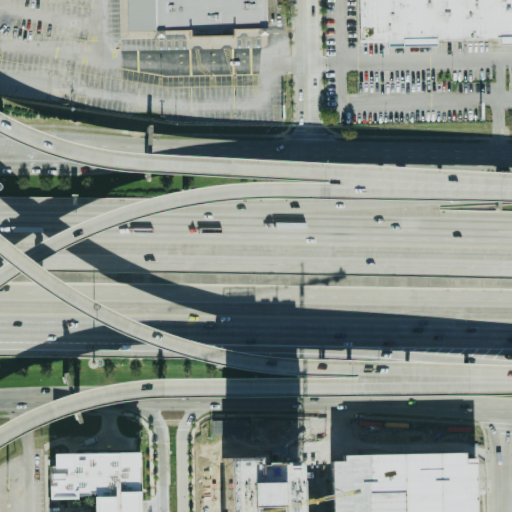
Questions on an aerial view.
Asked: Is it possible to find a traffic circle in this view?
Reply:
No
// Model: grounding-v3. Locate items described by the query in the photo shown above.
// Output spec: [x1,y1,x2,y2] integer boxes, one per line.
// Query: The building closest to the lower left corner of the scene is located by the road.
[48,453,142,512]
